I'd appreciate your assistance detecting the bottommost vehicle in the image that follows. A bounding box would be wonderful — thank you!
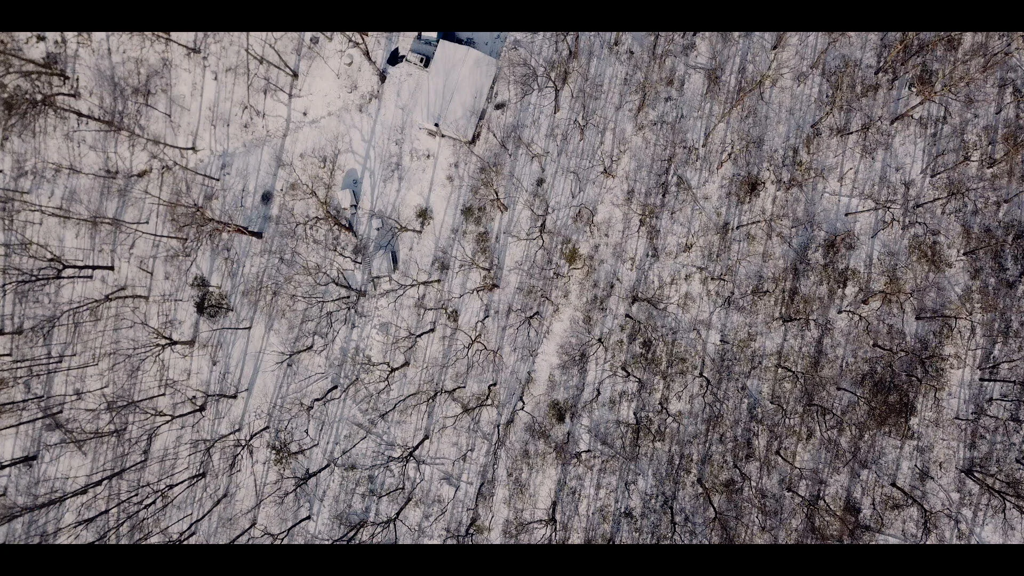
[405,49,434,70]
